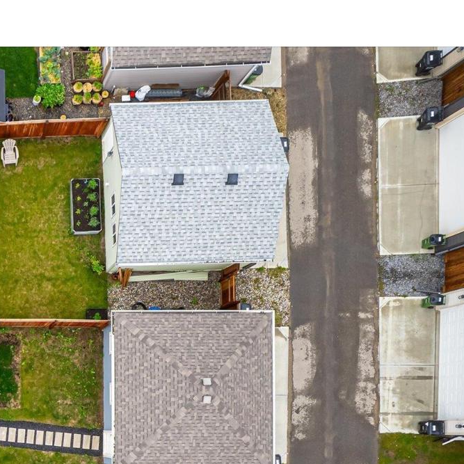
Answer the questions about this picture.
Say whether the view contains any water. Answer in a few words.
No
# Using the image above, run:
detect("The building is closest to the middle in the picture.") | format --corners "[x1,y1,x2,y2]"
[100,98,289,274]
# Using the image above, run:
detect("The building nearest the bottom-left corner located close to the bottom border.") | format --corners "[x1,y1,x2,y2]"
[93,308,277,464]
